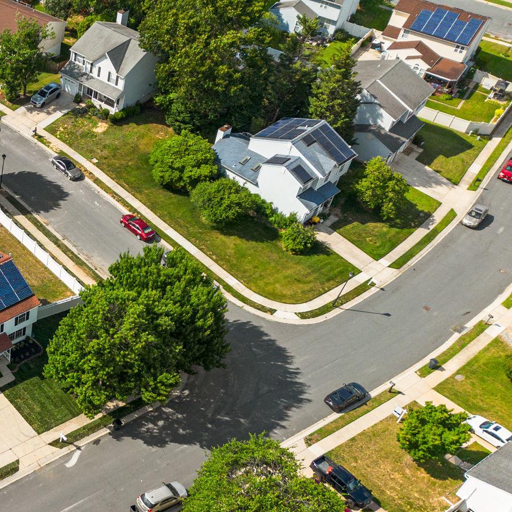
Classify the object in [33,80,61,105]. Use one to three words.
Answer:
car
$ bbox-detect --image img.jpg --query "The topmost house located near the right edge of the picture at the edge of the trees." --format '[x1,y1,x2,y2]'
[377,0,493,94]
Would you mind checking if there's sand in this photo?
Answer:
No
